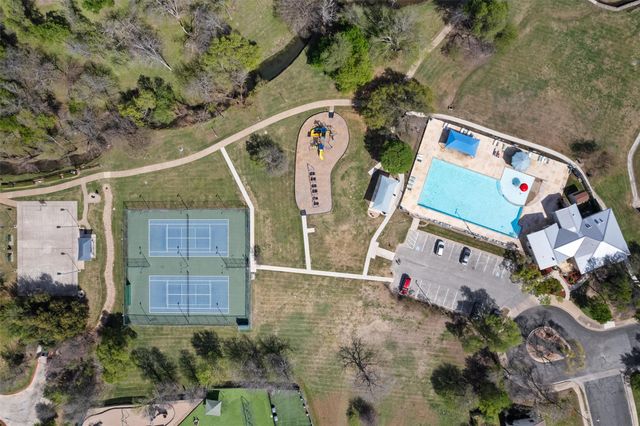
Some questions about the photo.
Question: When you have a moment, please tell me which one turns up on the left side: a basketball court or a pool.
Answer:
basketball court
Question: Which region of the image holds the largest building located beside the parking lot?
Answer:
right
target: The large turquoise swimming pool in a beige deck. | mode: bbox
[400,119,569,261]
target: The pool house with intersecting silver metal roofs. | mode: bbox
[524,203,630,275]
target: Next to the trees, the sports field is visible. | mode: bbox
[178,390,274,426]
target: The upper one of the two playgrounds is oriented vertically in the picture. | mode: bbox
[295,111,349,214]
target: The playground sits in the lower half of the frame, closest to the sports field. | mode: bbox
[81,397,204,426]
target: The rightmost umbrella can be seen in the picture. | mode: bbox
[511,152,530,171]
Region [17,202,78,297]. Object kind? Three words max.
basketball court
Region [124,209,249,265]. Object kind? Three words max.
tennis court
